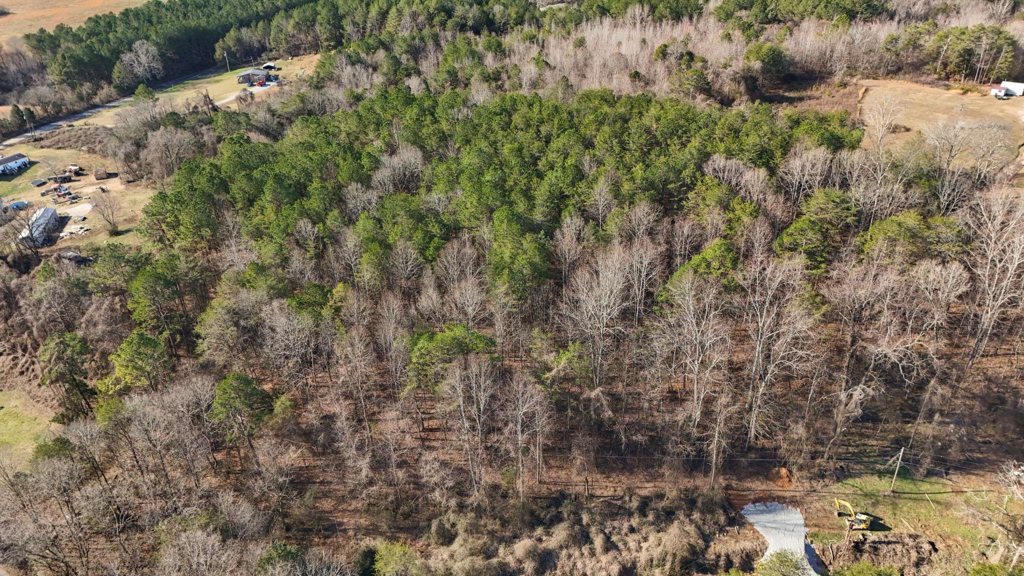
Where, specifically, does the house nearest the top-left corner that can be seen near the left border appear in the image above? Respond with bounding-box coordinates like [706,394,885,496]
[0,151,39,179]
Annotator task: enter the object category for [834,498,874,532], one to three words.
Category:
work vehicle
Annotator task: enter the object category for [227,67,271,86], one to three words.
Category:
house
